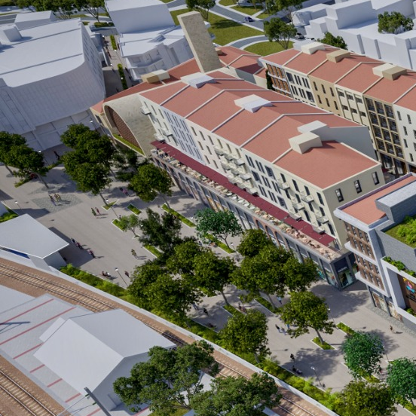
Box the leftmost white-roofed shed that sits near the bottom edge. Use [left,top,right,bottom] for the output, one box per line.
[33,311,181,412]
